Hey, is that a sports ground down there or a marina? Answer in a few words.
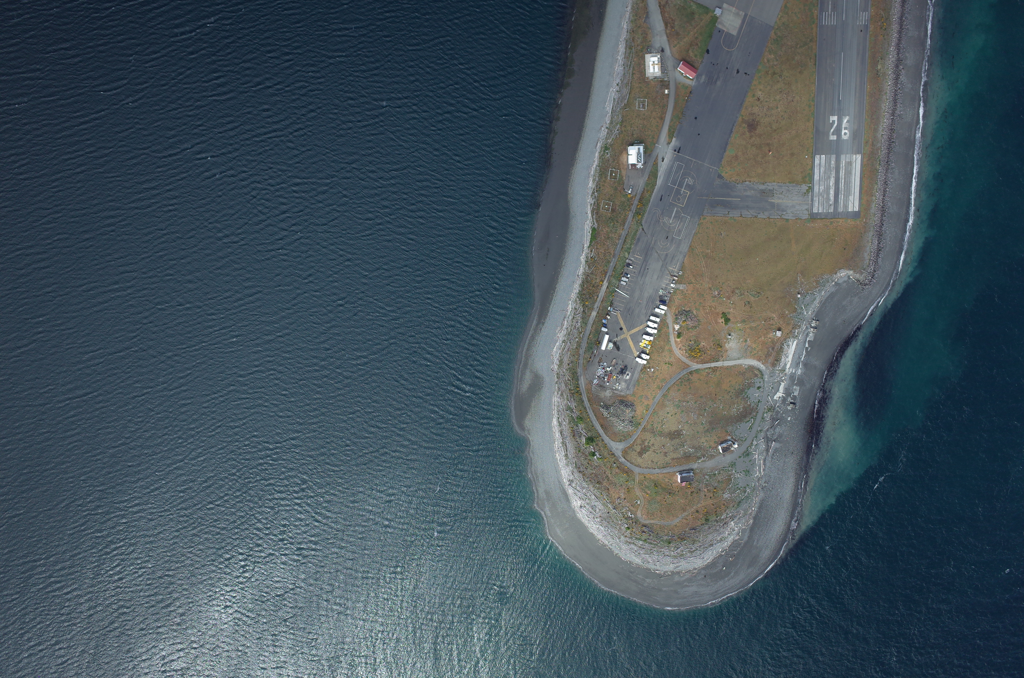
marina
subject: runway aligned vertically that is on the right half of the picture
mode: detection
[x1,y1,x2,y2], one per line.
[810,0,871,219]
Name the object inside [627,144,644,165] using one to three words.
building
